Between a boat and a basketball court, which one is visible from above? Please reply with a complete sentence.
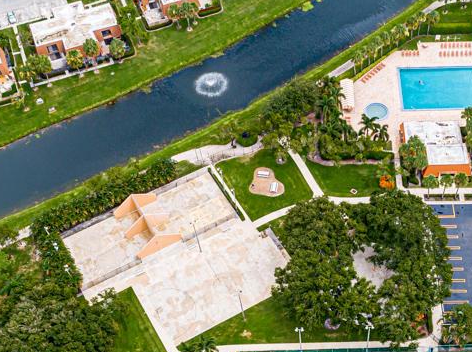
Looking from above, you can make out a basketball court.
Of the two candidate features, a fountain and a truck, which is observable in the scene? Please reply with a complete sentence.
Of the two, only a fountain appears.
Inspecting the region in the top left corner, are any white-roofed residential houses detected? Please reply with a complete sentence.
Yes, there is a white-roofed residential house in the top left corner.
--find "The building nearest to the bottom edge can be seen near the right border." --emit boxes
[399,120,472,178]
